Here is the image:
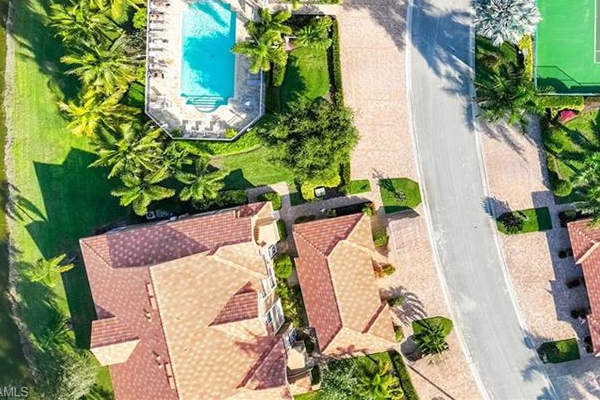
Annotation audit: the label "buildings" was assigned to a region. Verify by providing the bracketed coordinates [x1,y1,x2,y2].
[290,213,399,356]
[78,196,317,400]
[567,218,600,356]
